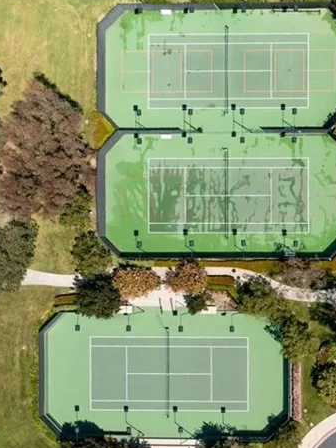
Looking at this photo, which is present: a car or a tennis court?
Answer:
tennis court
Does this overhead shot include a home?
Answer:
No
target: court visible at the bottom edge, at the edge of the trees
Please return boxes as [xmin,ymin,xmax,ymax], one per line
[48,311,289,438]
